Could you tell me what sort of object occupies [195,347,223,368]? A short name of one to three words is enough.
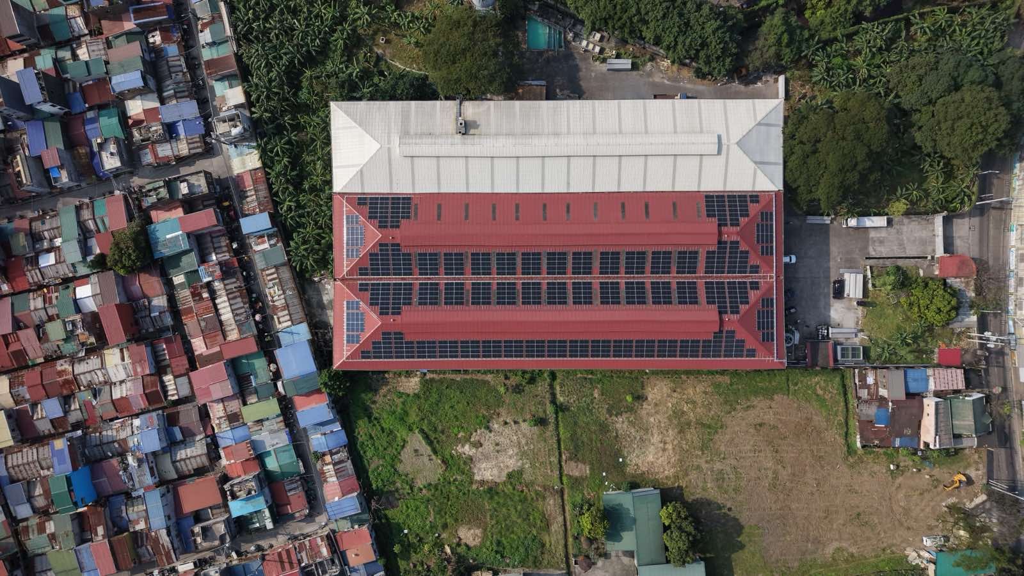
house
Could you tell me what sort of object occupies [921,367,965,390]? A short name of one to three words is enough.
house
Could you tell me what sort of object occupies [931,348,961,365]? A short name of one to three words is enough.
building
